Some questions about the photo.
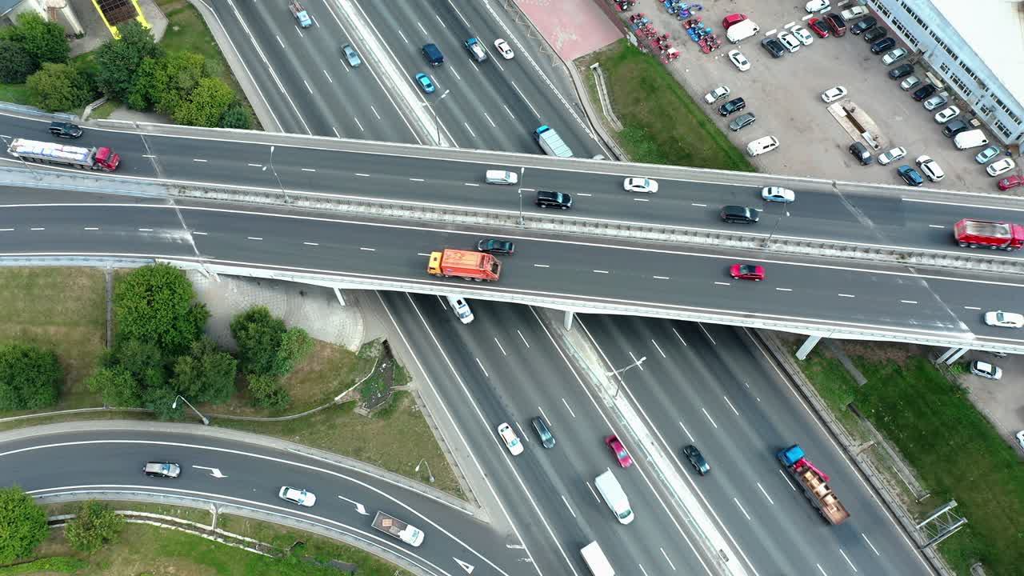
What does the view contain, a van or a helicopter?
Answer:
van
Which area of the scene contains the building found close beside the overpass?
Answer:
top right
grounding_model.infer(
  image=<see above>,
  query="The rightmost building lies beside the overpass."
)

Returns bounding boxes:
[869,0,1024,152]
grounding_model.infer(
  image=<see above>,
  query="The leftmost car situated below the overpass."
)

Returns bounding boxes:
[141,460,183,479]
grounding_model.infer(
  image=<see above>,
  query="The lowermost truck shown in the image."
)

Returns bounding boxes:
[578,540,617,576]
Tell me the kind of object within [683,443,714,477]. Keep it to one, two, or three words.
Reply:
car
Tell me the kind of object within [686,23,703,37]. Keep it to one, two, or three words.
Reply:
work vehicle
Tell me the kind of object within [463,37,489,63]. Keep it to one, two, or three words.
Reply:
truck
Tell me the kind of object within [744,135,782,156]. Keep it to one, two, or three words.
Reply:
vehicle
